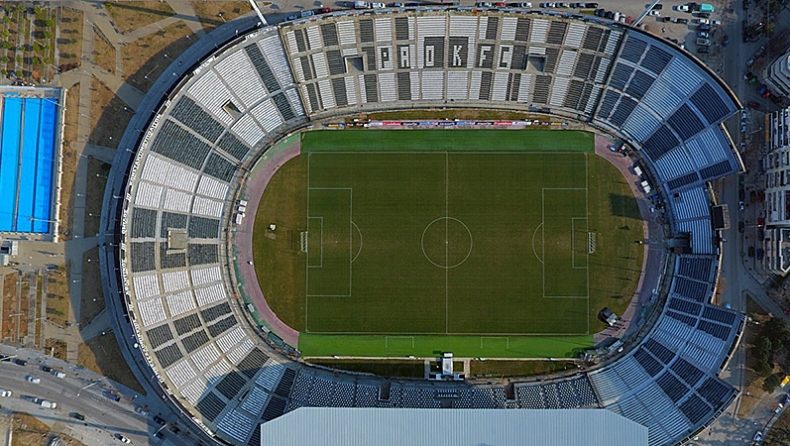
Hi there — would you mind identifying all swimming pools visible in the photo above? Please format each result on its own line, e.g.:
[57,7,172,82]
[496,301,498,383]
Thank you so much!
[0,86,67,242]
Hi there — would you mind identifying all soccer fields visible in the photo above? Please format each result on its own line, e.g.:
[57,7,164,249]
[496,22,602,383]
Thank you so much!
[299,131,596,357]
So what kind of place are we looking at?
sports ground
